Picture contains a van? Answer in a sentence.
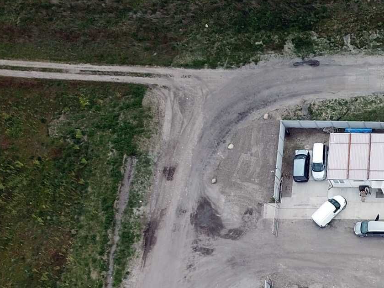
Yes, a van is visible in the scene.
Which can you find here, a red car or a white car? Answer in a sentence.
It is a white car that can be seen here.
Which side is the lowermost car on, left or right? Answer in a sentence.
The lowermost car is on the right side of the image.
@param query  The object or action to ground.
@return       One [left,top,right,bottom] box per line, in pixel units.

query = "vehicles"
[292,148,310,183]
[354,213,384,238]
[313,193,349,230]
[309,145,329,180]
